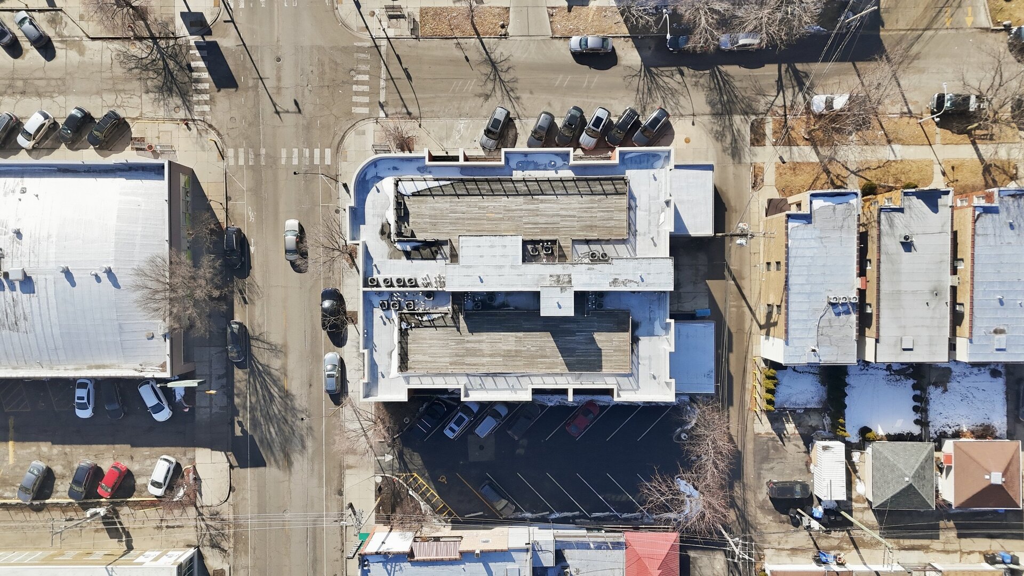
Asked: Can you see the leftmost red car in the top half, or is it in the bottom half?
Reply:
bottom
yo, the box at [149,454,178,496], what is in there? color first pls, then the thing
white car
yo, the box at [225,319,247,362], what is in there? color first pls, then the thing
black car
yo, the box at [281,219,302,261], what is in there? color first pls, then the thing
gray car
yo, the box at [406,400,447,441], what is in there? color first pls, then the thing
black car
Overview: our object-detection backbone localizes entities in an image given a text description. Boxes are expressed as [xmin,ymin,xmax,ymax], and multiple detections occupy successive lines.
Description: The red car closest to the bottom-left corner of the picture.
[100,460,129,498]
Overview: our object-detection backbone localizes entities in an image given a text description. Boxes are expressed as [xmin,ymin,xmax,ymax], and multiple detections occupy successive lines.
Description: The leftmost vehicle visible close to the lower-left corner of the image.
[19,458,50,502]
